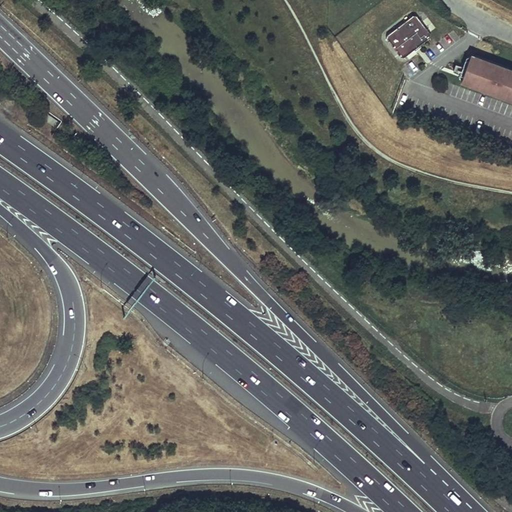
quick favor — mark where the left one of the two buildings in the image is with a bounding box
[386,16,431,59]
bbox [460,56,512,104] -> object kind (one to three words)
building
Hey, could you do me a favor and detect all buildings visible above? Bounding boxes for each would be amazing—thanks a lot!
[460,56,512,104]
[386,16,431,59]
